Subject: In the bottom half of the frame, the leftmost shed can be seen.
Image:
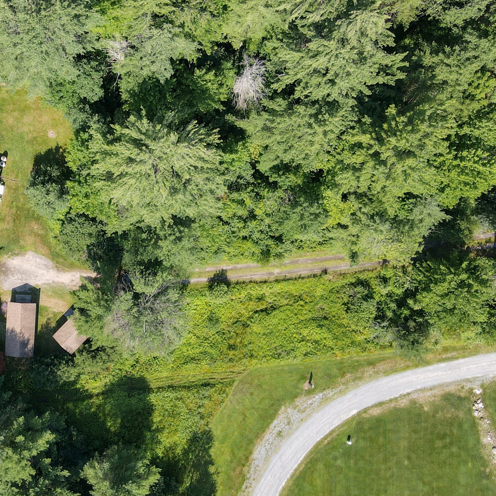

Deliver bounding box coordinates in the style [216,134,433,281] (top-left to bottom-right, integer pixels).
[4,290,37,358]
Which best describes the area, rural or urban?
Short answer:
rural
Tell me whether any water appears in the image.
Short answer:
No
